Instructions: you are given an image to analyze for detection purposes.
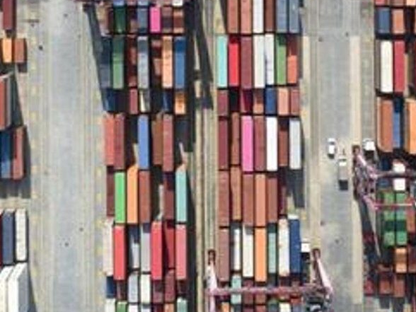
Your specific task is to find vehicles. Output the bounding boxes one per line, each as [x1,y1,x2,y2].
[338,157,348,182]
[302,238,310,285]
[364,138,377,168]
[327,139,335,158]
